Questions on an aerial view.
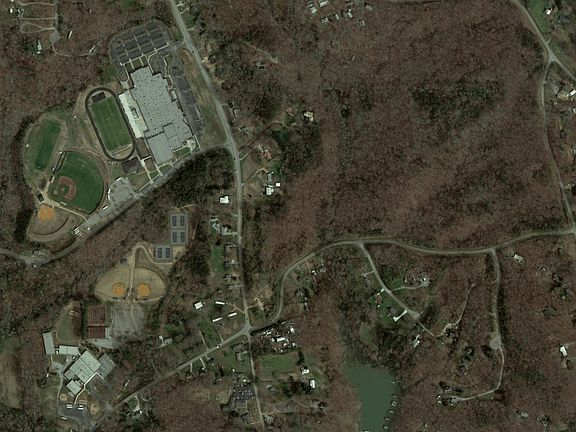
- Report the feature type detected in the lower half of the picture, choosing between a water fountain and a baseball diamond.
baseball diamond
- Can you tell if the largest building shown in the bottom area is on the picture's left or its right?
left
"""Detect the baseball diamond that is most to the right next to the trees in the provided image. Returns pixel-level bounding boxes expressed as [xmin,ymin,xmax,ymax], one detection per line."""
[133,267,165,300]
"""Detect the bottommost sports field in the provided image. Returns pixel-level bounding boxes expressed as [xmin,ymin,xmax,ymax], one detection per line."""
[56,302,81,341]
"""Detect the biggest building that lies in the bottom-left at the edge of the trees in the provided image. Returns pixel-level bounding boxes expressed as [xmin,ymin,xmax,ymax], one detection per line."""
[59,345,115,395]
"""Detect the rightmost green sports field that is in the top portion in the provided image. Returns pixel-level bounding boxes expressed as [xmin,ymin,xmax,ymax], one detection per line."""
[89,96,130,151]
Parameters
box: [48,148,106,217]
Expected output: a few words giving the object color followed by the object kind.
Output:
green baseball field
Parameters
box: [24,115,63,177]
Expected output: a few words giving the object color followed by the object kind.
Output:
green sports field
